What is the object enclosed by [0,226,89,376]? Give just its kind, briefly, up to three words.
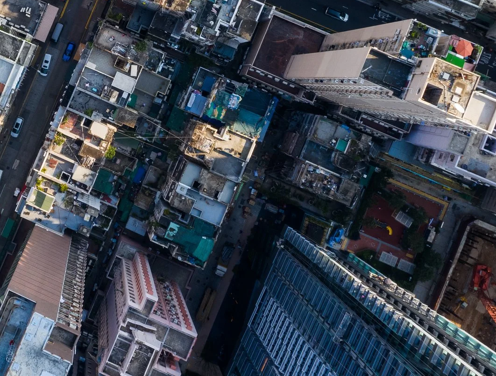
building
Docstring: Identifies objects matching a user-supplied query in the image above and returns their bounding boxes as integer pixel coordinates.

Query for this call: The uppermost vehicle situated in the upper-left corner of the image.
[50,21,65,44]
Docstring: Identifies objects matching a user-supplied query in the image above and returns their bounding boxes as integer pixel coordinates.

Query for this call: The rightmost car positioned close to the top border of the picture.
[324,8,348,23]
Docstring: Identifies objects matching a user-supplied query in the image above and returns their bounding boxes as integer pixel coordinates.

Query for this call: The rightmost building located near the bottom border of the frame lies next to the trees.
[231,226,496,376]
